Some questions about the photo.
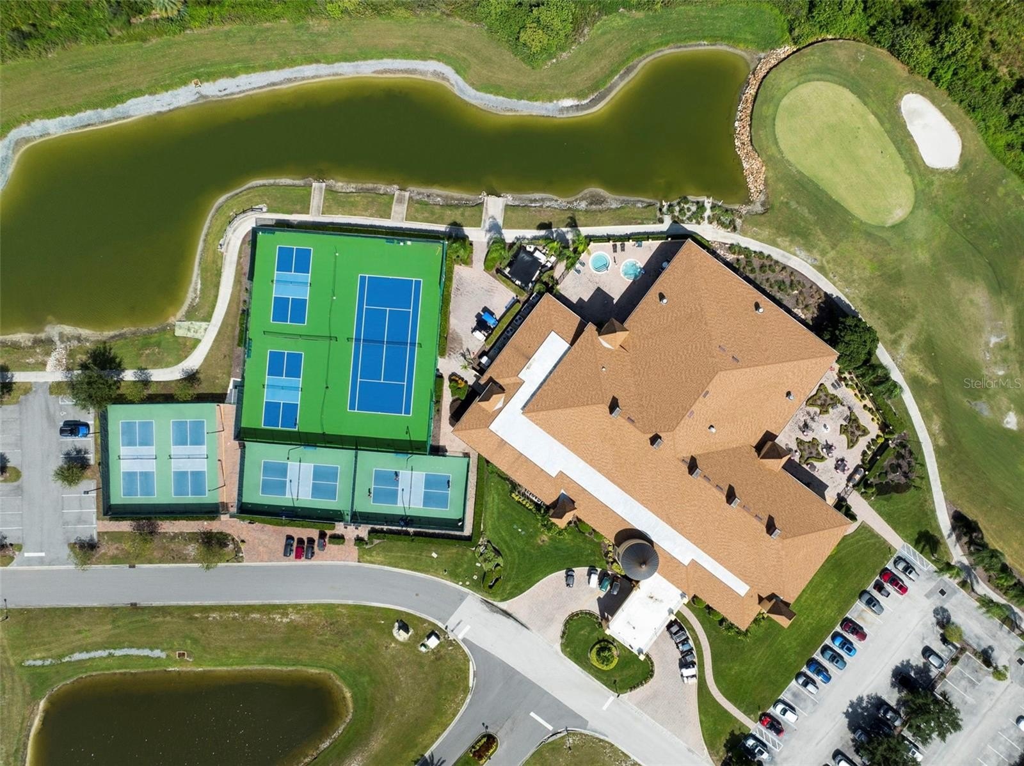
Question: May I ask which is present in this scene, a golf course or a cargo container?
golf course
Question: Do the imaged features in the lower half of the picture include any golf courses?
No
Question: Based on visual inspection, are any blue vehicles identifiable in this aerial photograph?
Yes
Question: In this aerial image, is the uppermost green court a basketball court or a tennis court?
tennis court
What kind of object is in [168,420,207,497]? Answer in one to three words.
sports court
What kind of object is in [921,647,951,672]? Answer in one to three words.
car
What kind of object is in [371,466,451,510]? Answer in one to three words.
sports court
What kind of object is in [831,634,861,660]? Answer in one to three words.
car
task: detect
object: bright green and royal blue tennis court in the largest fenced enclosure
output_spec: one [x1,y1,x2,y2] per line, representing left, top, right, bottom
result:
[240,230,446,455]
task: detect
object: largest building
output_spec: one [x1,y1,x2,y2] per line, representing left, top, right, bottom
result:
[452,239,853,653]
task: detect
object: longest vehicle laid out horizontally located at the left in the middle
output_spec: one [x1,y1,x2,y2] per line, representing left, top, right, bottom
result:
[57,423,89,437]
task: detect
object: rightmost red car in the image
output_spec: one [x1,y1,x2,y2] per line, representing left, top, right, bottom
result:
[882,572,912,598]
